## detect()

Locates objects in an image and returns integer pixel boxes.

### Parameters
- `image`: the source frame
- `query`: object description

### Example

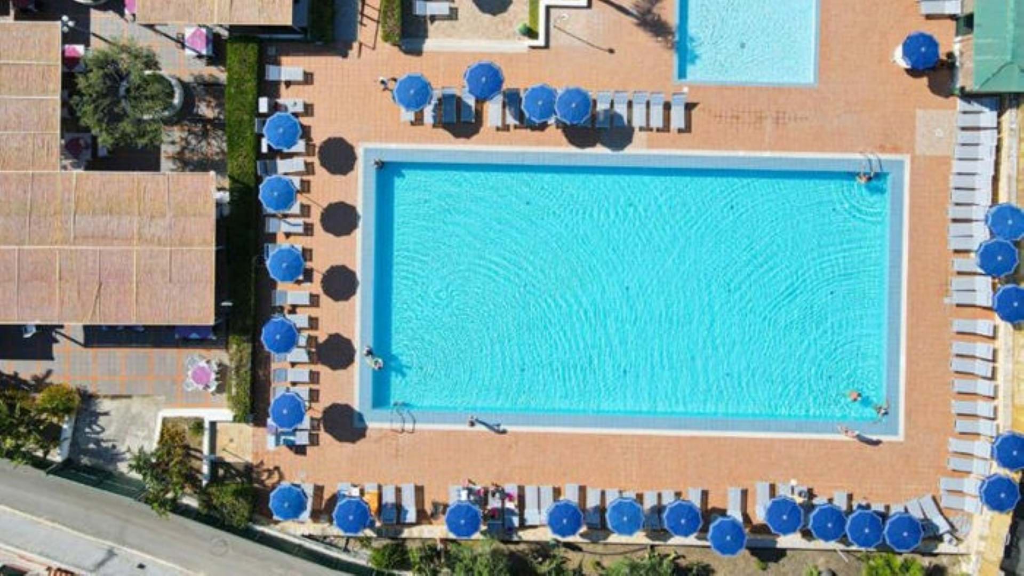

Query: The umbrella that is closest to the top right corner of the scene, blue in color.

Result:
[893,33,936,72]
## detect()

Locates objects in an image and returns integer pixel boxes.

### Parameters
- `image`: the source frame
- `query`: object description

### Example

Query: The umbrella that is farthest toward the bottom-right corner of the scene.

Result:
[970,472,1015,511]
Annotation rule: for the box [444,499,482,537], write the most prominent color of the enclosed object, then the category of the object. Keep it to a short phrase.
blue umbrella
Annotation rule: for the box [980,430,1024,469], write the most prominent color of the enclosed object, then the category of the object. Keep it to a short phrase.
blue umbrella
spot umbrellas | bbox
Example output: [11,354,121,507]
[271,481,309,518]
[272,390,309,427]
[605,496,642,533]
[466,63,503,102]
[334,494,373,532]
[844,509,880,547]
[707,515,745,553]
[270,245,306,282]
[893,33,936,72]
[395,76,432,113]
[267,114,303,150]
[981,202,1023,241]
[663,497,701,535]
[521,87,557,124]
[261,176,298,213]
[262,316,300,353]
[982,284,1024,323]
[980,430,1024,469]
[444,499,482,537]
[970,472,1015,511]
[547,498,583,535]
[762,495,801,533]
[967,238,1012,277]
[807,506,845,543]
[882,511,920,549]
